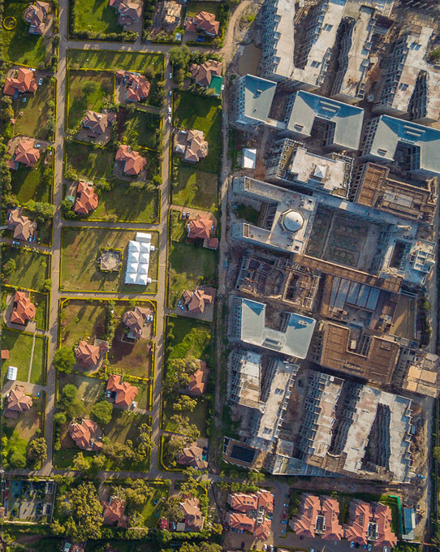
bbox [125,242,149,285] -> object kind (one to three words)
tent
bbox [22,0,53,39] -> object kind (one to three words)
house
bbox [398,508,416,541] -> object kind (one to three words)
shed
